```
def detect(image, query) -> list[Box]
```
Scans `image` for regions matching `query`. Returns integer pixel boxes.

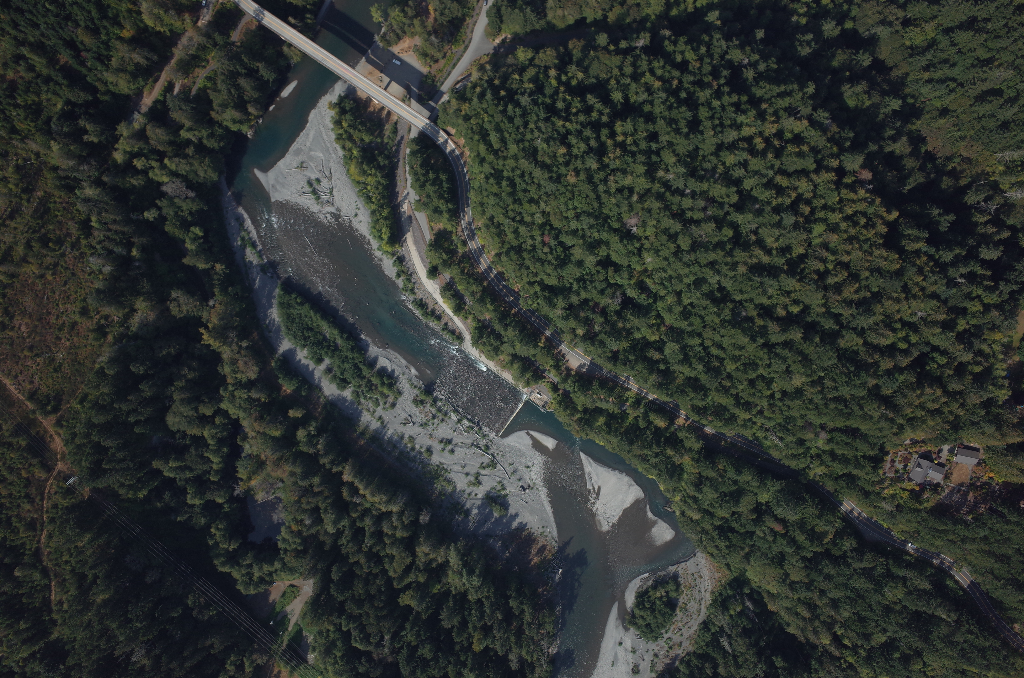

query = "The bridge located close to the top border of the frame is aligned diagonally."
[225,0,428,131]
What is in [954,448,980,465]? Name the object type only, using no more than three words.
building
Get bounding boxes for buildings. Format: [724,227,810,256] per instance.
[954,448,980,465]
[908,458,945,483]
